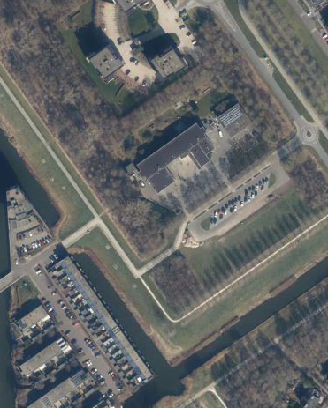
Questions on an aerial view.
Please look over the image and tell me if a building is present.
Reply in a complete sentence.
Yes, a building appears in the view.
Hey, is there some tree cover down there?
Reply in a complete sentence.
Yes, there's tree cover in this view.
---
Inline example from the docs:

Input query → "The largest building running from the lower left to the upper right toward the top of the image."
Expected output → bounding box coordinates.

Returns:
[137,122,205,183]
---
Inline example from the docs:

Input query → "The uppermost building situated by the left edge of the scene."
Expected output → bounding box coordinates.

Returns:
[6,185,32,219]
